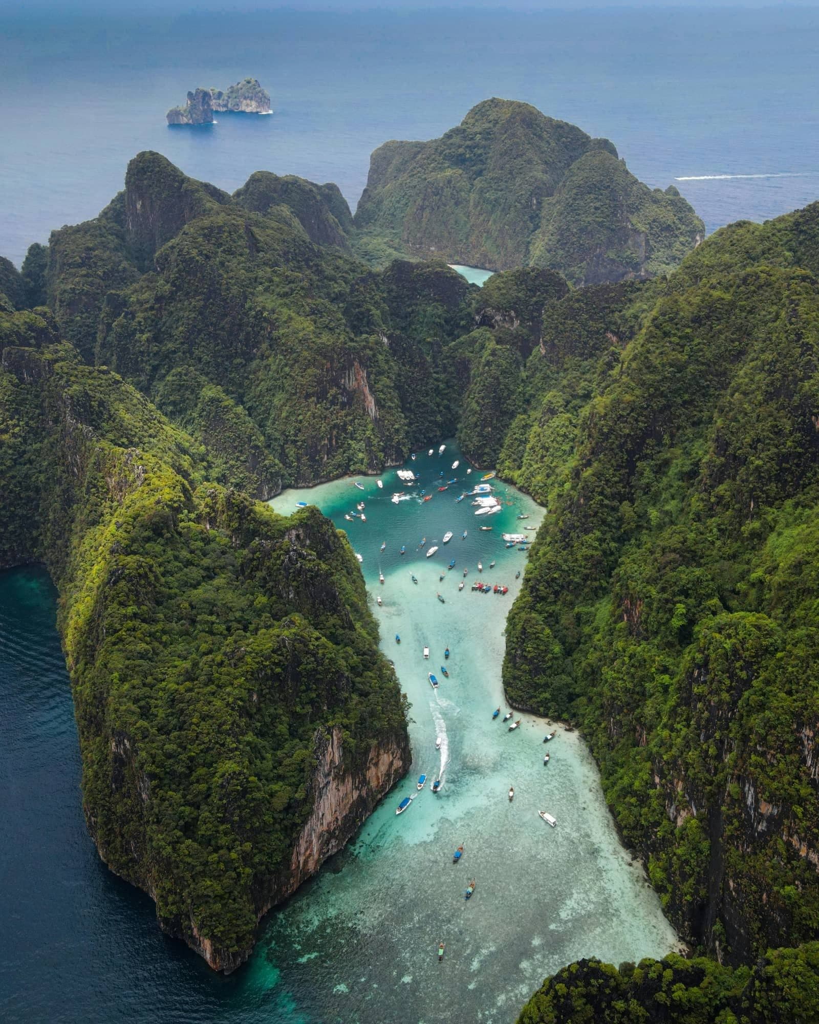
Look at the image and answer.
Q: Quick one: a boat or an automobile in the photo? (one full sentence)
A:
I can see a boat in this picture.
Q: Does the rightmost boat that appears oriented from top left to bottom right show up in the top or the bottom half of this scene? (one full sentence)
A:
Seen from above, the rightmost boat that appears oriented from top left to bottom right lies in the bottom half of the view.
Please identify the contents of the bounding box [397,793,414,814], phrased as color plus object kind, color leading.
blue boat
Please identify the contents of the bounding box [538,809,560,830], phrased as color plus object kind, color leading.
white boat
